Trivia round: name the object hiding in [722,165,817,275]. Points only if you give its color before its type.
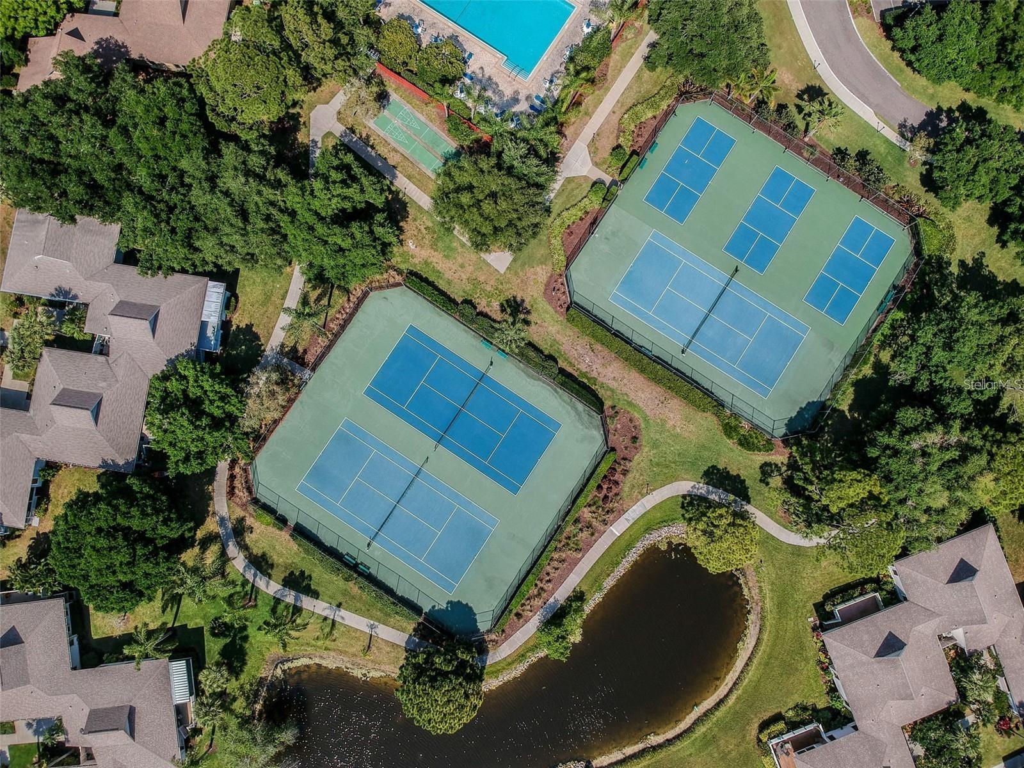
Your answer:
blue sports court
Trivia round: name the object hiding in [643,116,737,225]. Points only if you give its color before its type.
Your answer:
blue sports court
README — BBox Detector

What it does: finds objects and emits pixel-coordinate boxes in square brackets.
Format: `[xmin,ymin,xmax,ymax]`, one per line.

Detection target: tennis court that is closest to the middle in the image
[362,323,563,496]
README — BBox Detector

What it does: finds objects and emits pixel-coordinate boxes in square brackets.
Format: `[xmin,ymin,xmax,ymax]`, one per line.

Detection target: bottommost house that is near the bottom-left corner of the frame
[0,586,205,768]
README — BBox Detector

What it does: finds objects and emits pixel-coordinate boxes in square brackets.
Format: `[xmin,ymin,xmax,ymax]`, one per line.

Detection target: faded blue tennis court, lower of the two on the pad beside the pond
[297,417,499,594]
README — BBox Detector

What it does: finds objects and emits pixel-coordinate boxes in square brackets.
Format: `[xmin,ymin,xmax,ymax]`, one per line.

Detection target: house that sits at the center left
[0,205,235,530]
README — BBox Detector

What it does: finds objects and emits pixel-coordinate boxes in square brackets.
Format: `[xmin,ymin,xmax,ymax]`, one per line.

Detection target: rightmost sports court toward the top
[802,215,897,326]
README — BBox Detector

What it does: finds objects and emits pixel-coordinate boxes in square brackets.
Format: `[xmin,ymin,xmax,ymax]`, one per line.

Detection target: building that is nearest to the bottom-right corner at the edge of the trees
[769,523,1024,768]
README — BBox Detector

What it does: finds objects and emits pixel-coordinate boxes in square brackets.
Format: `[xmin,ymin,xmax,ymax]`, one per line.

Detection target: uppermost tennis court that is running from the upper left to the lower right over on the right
[609,229,811,399]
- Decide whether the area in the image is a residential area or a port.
residential area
